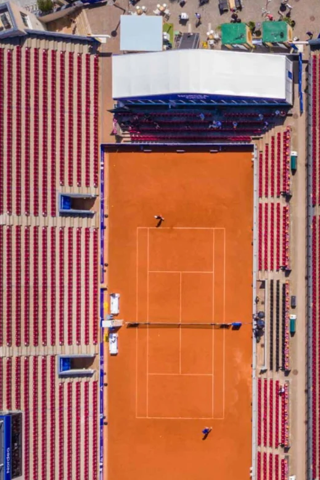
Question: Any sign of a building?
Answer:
Yes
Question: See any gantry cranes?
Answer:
No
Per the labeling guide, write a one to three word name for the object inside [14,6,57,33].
house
